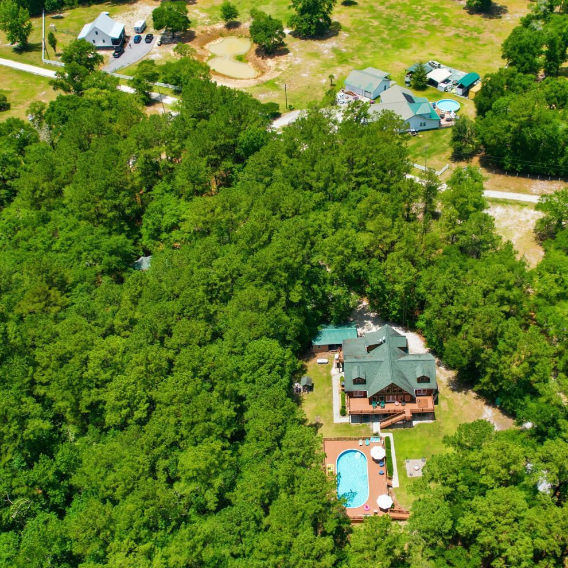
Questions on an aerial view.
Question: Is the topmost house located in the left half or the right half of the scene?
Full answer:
It is on the left.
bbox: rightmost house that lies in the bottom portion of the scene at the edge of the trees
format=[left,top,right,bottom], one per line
[341,322,437,427]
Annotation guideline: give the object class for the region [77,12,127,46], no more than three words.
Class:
house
